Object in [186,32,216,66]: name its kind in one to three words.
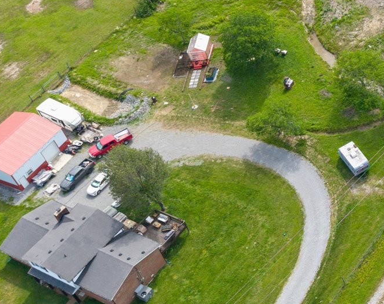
greenhouse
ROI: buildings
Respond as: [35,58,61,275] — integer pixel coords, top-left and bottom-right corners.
[186,32,216,66]
[0,199,166,304]
[0,111,70,191]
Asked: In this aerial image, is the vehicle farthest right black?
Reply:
No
